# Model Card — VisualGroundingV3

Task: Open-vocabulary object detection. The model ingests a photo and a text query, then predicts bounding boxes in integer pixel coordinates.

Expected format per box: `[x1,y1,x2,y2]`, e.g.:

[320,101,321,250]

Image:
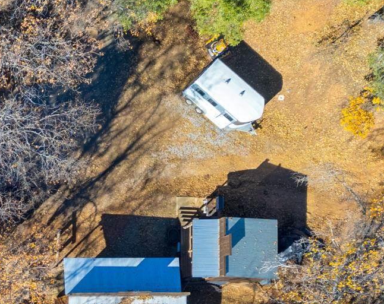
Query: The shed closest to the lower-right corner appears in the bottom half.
[174,216,278,279]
